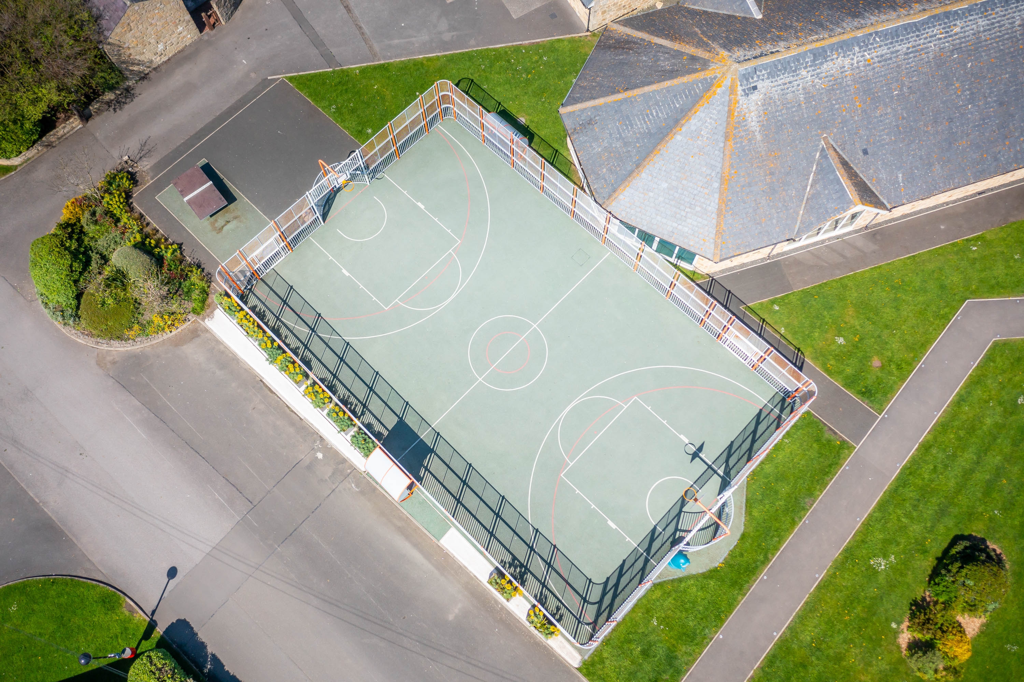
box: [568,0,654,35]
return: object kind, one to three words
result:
house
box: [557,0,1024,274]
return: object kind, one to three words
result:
building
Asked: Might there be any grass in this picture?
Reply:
Yes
